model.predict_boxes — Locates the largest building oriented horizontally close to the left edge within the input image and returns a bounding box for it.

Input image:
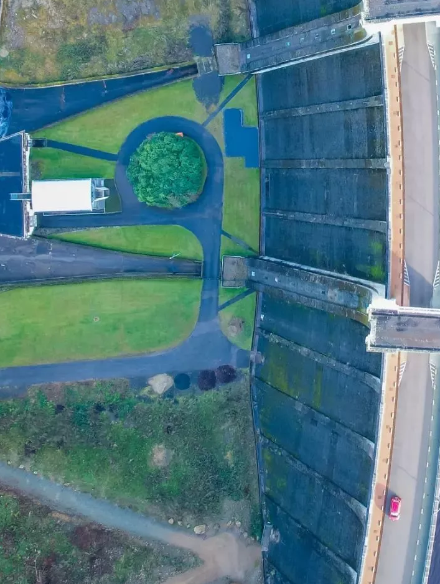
[12,178,116,213]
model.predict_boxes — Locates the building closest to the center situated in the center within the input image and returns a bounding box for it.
[221,255,257,288]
